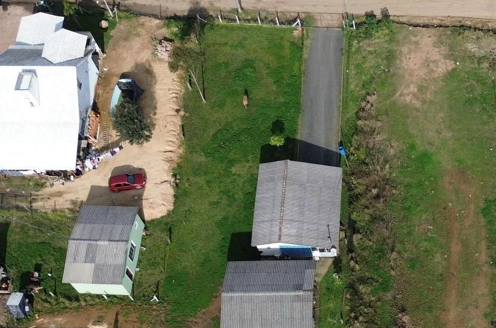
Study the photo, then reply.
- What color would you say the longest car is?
red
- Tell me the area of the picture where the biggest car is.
left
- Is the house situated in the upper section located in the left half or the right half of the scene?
left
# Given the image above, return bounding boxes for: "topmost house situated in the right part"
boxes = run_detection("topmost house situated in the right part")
[252,160,343,261]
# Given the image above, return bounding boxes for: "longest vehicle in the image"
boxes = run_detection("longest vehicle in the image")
[105,173,145,193]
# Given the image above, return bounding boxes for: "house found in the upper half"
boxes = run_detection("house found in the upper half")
[0,12,106,180]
